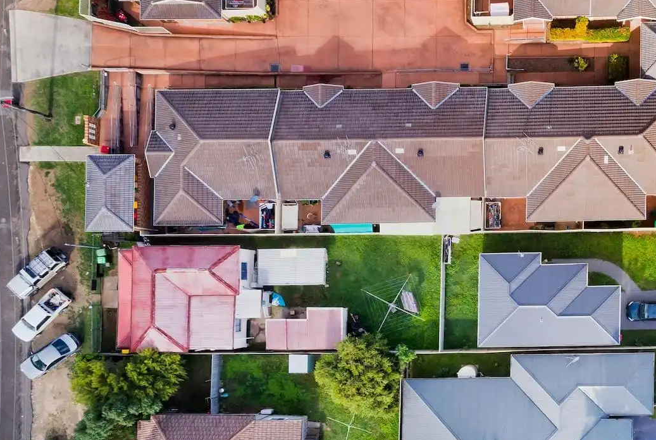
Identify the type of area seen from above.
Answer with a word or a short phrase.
residential area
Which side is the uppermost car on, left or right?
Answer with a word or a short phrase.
left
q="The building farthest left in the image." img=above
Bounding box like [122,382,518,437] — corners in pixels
[83,153,142,233]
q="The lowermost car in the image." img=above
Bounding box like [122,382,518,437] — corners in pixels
[23,333,81,379]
